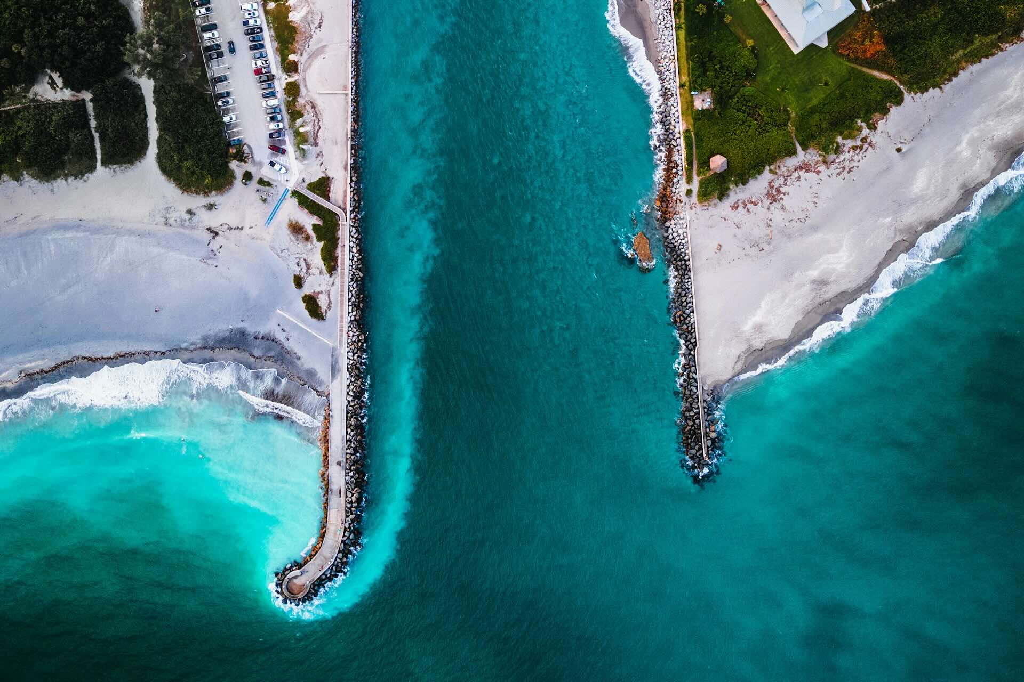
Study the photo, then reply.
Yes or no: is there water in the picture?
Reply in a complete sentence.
Yes, there is water in the image.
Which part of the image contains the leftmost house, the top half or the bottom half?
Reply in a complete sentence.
Seen from above, the leftmost house lies in the top half of the view.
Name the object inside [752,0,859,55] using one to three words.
house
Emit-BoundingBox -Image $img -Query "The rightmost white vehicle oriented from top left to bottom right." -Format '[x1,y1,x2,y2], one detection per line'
[267,158,288,175]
